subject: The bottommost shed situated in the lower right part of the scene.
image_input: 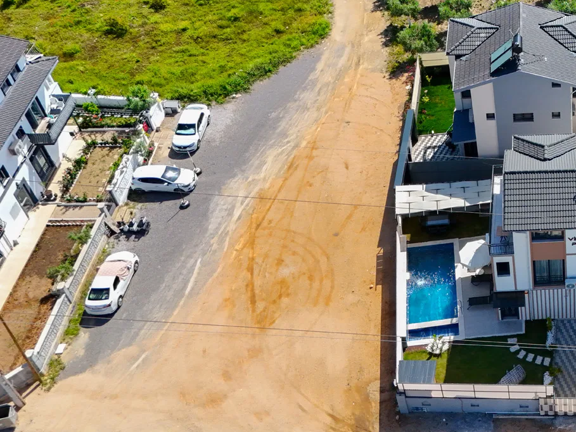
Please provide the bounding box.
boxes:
[399,358,438,386]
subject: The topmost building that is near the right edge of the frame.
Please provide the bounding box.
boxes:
[444,0,576,176]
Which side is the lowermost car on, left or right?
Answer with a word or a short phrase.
left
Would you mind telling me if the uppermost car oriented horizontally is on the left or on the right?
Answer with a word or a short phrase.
left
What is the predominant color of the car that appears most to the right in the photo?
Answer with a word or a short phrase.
white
